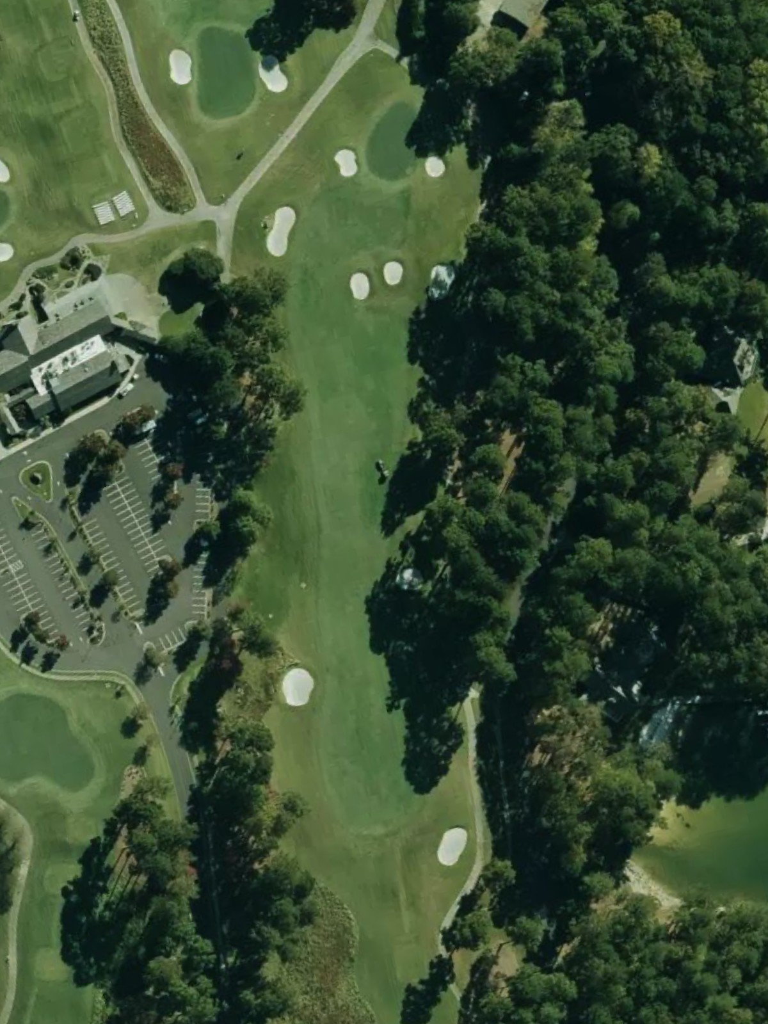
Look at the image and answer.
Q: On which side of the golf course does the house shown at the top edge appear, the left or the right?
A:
to its right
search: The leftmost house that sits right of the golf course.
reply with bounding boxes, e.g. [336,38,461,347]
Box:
[496,0,539,32]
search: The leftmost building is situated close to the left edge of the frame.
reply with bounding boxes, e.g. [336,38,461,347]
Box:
[0,303,157,448]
